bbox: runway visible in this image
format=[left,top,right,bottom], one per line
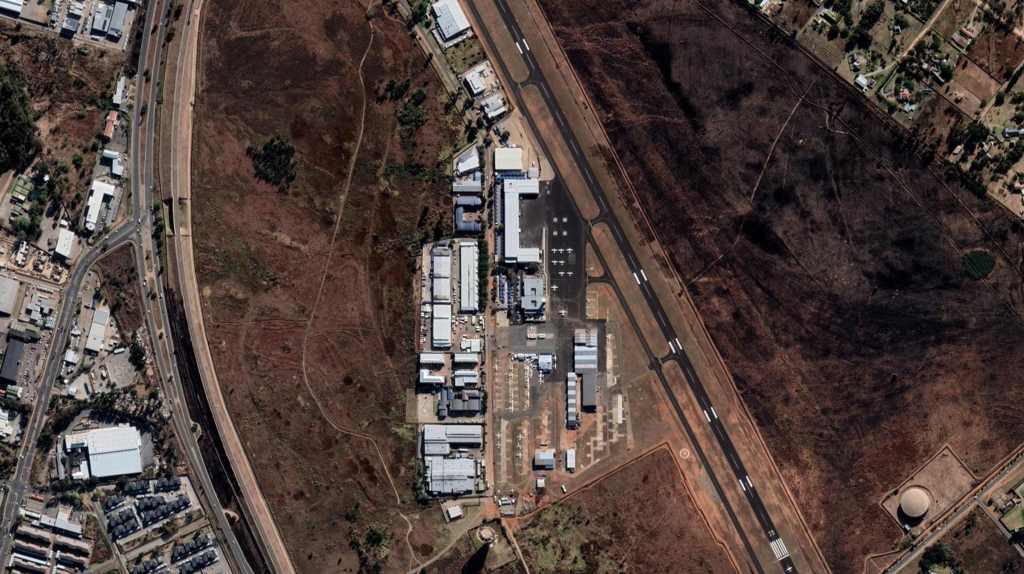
[493,0,798,574]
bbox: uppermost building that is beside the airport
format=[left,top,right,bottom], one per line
[433,0,470,38]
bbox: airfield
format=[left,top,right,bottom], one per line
[466,0,798,574]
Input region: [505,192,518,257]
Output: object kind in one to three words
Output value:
hangar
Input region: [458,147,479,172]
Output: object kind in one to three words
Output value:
building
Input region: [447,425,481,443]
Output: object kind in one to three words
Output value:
building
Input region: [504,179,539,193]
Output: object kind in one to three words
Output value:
hangar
